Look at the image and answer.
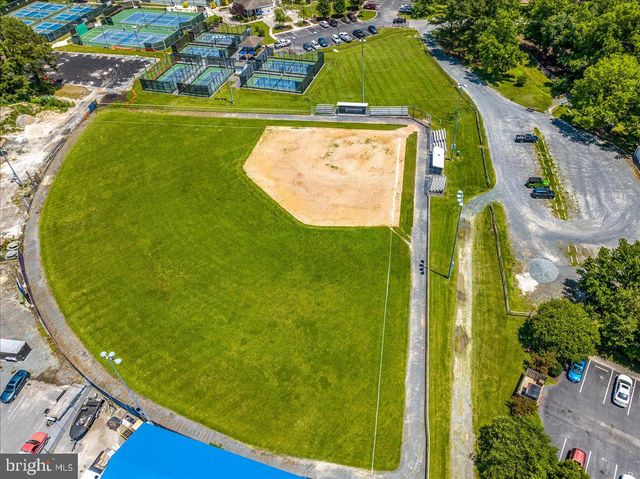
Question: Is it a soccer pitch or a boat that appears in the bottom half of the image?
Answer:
boat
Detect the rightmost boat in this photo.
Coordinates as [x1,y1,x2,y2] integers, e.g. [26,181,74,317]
[71,393,104,440]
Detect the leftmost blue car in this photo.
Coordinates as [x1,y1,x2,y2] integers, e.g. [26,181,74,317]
[0,372,29,405]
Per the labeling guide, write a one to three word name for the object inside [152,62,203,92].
sports court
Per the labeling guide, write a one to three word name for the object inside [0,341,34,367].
trailer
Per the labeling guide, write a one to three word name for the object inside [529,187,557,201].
vehicle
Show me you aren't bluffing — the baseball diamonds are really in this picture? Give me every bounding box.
[21,106,429,479]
